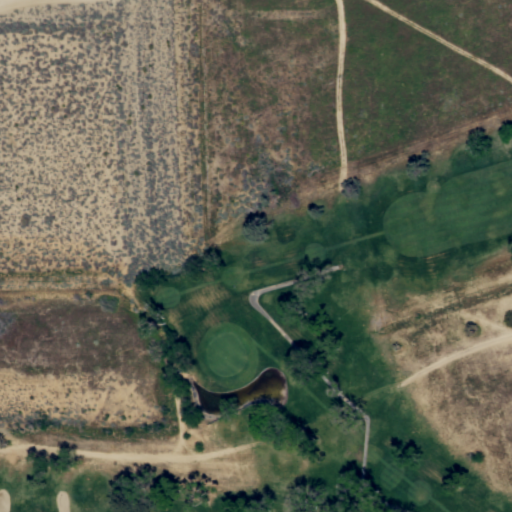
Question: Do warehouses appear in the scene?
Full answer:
No, there is no warehouse in the image.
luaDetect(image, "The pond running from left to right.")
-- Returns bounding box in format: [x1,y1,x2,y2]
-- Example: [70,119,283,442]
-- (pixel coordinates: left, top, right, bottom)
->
[194,370,285,413]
